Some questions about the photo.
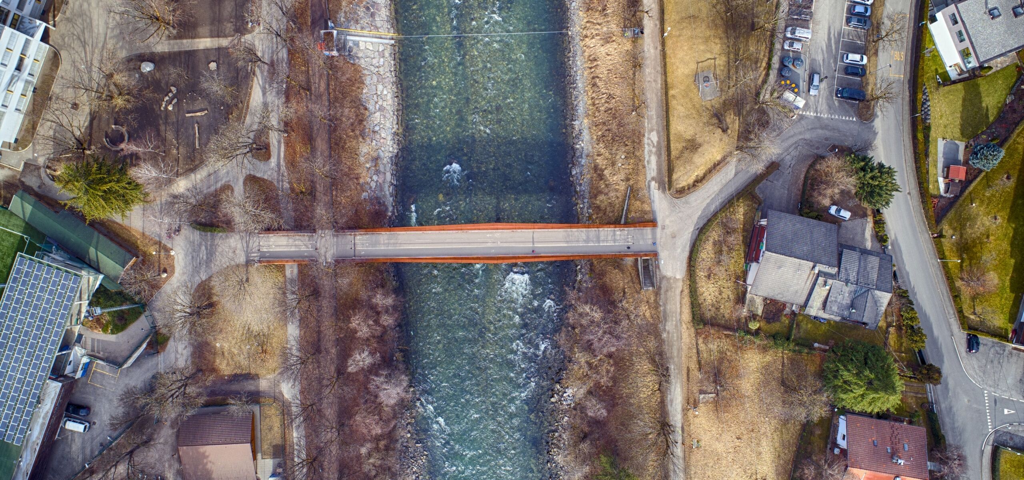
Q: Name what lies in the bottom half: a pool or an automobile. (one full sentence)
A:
You can see an automobile in the bottom half.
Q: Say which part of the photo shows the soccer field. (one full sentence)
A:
The soccer field appears toward the left of the photo.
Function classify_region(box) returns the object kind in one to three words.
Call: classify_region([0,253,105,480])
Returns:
building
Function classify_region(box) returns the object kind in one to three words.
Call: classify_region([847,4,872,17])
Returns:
vehicle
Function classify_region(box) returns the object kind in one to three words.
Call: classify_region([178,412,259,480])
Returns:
building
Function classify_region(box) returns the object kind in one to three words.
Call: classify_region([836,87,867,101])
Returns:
car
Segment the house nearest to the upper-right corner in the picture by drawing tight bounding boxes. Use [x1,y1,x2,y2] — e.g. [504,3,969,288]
[919,0,1024,81]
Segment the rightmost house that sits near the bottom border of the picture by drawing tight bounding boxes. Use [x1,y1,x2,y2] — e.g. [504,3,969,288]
[833,409,930,480]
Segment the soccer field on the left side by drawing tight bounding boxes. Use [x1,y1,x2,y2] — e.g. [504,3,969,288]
[0,204,86,300]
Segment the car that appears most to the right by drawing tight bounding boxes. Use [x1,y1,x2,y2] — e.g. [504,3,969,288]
[965,332,981,355]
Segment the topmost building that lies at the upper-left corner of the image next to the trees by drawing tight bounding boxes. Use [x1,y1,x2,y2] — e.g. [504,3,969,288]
[0,0,61,146]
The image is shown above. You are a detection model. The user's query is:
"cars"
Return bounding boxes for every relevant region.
[785,26,812,40]
[847,4,872,17]
[786,0,812,8]
[826,204,852,221]
[842,52,867,65]
[845,16,871,29]
[782,38,804,52]
[965,332,981,355]
[847,0,873,5]
[64,402,92,416]
[843,65,866,77]
[787,8,814,20]
[807,71,821,96]
[836,87,867,101]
